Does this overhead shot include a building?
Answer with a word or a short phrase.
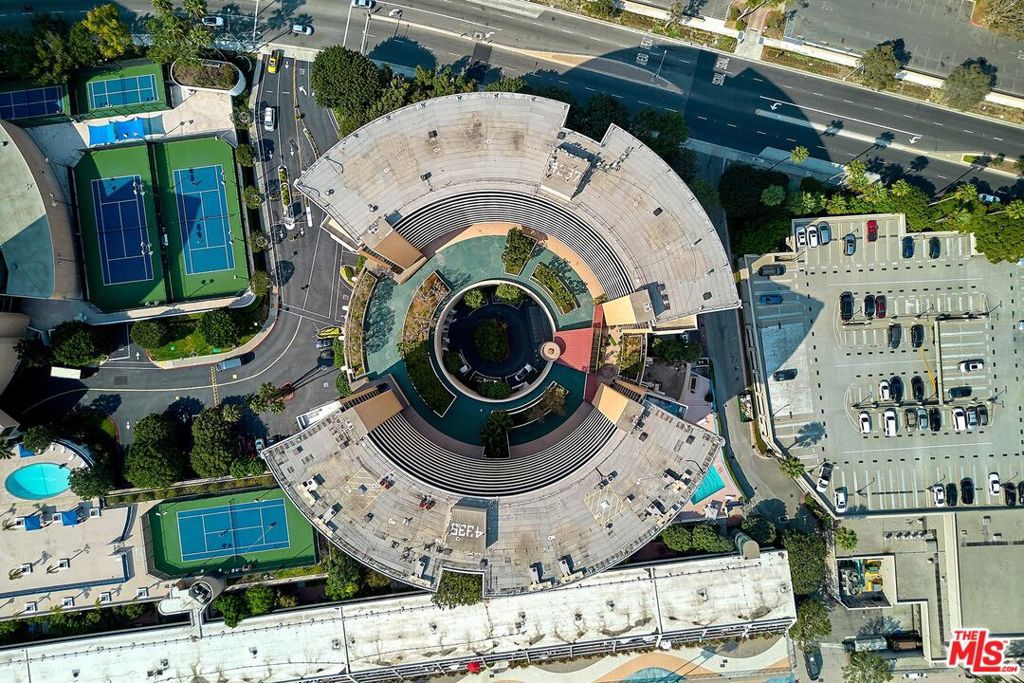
Yes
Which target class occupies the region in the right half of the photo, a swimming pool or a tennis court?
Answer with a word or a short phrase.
swimming pool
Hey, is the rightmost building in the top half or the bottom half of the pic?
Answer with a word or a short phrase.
bottom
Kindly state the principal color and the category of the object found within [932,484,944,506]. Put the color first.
white vehicle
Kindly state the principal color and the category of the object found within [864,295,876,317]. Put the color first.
black vehicle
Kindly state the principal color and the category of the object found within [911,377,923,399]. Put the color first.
black vehicle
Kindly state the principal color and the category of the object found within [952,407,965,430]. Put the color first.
white vehicle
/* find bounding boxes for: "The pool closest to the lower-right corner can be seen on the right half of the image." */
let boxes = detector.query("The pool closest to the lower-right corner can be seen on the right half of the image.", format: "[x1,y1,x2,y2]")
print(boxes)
[689,466,726,506]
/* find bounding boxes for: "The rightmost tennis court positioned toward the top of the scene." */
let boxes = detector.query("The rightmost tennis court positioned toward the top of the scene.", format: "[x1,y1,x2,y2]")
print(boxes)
[155,136,245,302]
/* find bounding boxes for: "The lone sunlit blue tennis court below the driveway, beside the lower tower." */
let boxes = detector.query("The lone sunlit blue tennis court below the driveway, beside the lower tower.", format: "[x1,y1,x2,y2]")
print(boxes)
[148,489,315,579]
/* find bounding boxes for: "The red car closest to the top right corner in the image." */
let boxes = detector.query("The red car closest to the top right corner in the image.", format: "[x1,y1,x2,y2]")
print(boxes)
[865,218,878,244]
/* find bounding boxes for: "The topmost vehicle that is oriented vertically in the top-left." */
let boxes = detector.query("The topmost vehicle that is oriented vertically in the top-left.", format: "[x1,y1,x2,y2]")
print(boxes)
[266,49,279,78]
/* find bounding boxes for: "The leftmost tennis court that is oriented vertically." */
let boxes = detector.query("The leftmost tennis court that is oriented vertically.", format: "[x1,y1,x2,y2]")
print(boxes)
[74,146,161,311]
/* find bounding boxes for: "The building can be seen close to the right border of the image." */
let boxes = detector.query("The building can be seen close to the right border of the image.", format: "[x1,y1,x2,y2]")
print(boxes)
[827,509,1024,661]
